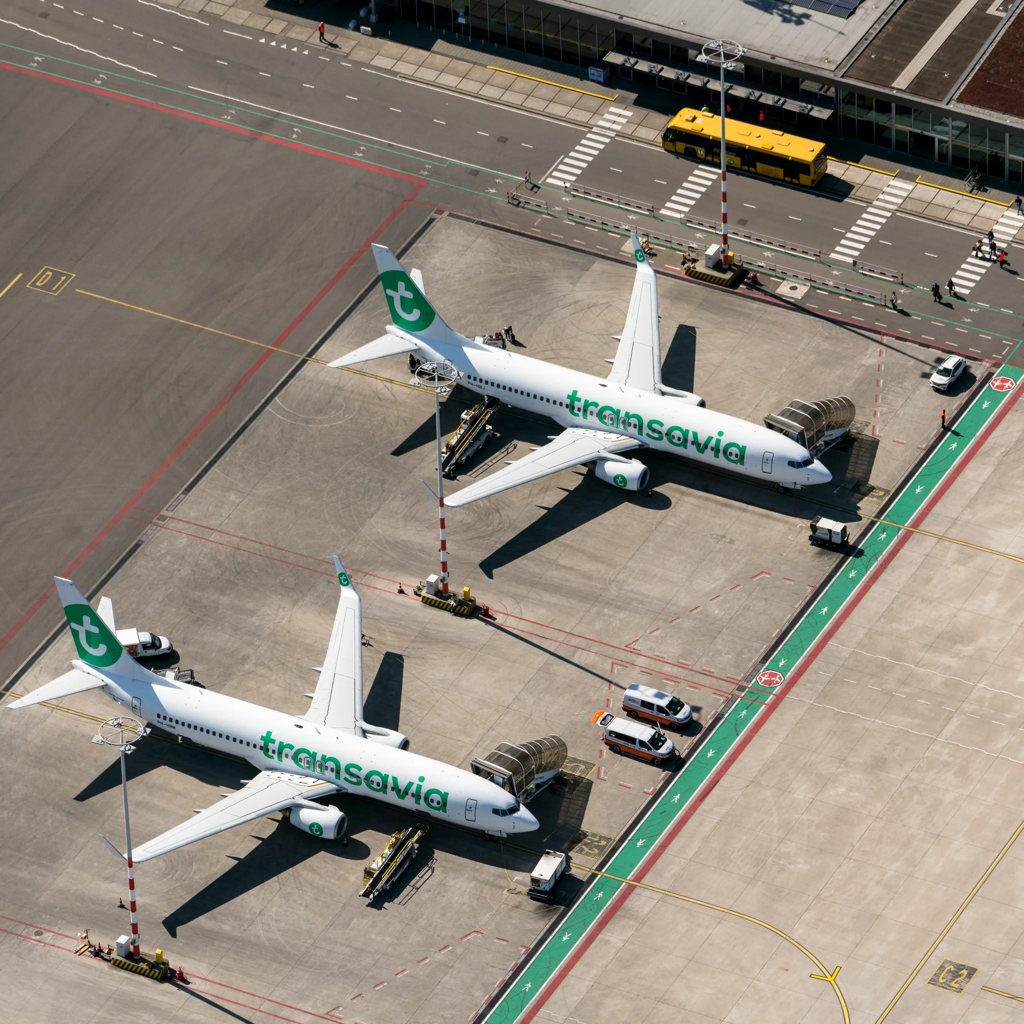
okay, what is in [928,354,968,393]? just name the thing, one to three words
car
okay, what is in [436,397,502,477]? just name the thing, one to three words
work vehicle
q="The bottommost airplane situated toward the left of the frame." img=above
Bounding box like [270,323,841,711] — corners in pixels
[7,556,539,859]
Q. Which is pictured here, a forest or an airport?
airport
